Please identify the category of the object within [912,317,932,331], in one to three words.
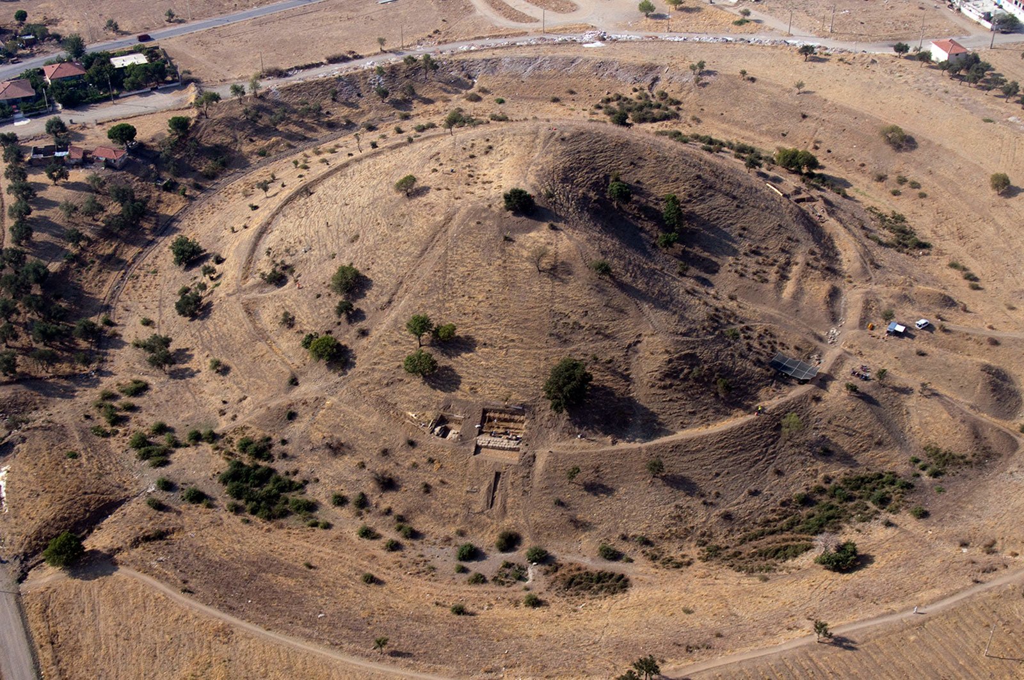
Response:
vehicle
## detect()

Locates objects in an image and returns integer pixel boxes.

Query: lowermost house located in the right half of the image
[931,36,966,63]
